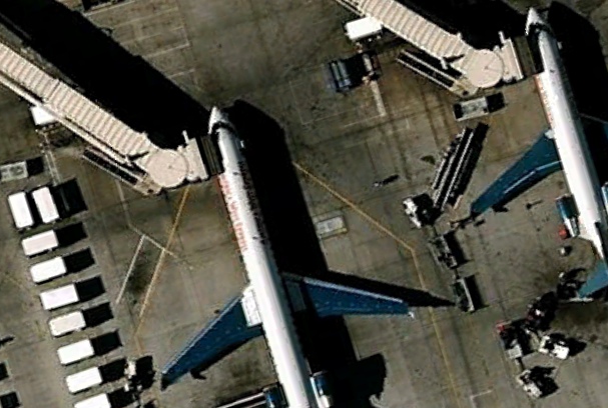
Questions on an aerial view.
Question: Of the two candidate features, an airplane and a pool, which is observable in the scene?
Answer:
airplane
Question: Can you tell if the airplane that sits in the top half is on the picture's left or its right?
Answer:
right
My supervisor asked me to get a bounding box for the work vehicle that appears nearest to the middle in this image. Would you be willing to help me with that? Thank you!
[401,197,423,225]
